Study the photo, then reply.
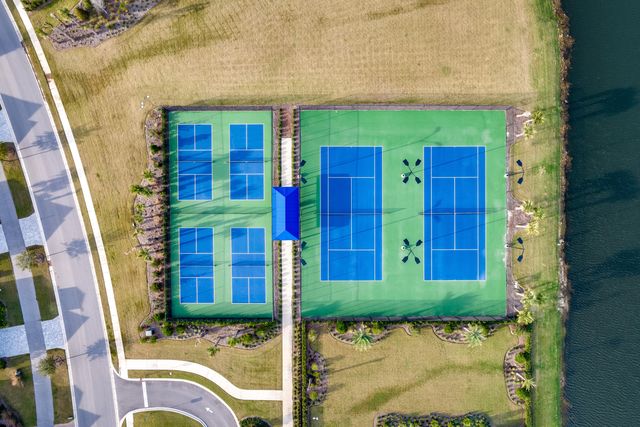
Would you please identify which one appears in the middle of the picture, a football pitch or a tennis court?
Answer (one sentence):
Looking in the middle of the picture, you will find a tennis court.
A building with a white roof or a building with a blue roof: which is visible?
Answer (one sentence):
Looking from above, you can make out a building with a blue roof.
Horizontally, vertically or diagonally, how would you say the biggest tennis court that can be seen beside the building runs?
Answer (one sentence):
The biggest tennis court that can be seen beside the building has been laid out vertically relative to the frame.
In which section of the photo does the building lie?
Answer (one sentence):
The building appears toward the center of the photo.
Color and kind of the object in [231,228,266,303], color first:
blue sports court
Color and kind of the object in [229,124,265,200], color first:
blue sports court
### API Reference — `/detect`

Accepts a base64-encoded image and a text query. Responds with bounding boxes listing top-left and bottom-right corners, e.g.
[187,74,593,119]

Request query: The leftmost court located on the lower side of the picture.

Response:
[179,228,214,303]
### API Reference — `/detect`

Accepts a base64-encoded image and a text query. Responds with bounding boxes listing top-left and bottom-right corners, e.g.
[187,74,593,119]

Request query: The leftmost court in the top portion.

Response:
[178,124,213,200]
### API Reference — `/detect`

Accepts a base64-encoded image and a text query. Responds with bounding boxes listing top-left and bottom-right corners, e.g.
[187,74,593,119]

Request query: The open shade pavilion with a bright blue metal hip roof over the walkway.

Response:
[272,187,299,240]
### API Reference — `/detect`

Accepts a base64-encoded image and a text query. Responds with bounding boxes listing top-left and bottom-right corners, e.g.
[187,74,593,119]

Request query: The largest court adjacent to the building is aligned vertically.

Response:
[321,146,382,281]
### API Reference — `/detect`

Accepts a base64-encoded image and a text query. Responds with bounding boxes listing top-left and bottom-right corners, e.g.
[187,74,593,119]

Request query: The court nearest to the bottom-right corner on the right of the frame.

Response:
[423,146,486,281]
